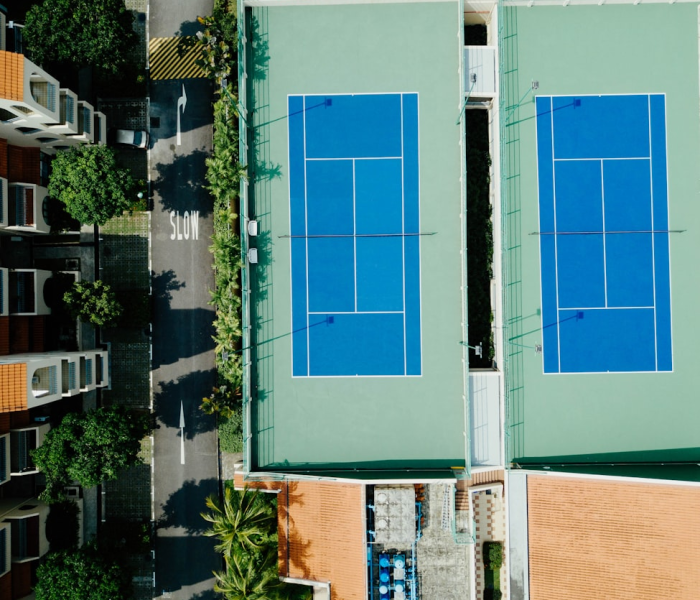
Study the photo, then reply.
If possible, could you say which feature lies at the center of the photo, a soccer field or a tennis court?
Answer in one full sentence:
It is a tennis court that can be seen at the center of the photo.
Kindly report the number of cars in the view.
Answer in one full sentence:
The photo contains exactly 1 car.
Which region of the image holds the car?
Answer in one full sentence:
The car is located in the top left region of the scene.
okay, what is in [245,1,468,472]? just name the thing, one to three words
tennis court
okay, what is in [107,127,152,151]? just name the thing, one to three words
car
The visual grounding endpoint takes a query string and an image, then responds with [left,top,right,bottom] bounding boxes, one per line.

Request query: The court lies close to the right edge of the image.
[483,3,700,467]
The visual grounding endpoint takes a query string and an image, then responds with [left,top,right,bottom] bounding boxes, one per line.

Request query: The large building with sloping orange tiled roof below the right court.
[499,463,700,600]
